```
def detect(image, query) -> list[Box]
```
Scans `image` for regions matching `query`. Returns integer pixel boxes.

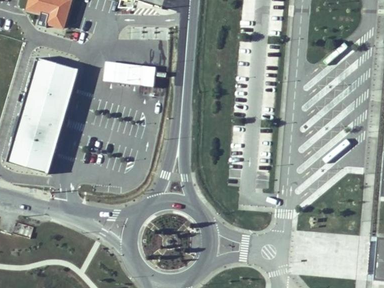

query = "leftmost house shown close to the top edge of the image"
[26,0,72,29]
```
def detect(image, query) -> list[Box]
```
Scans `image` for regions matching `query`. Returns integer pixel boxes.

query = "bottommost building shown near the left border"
[8,58,78,174]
